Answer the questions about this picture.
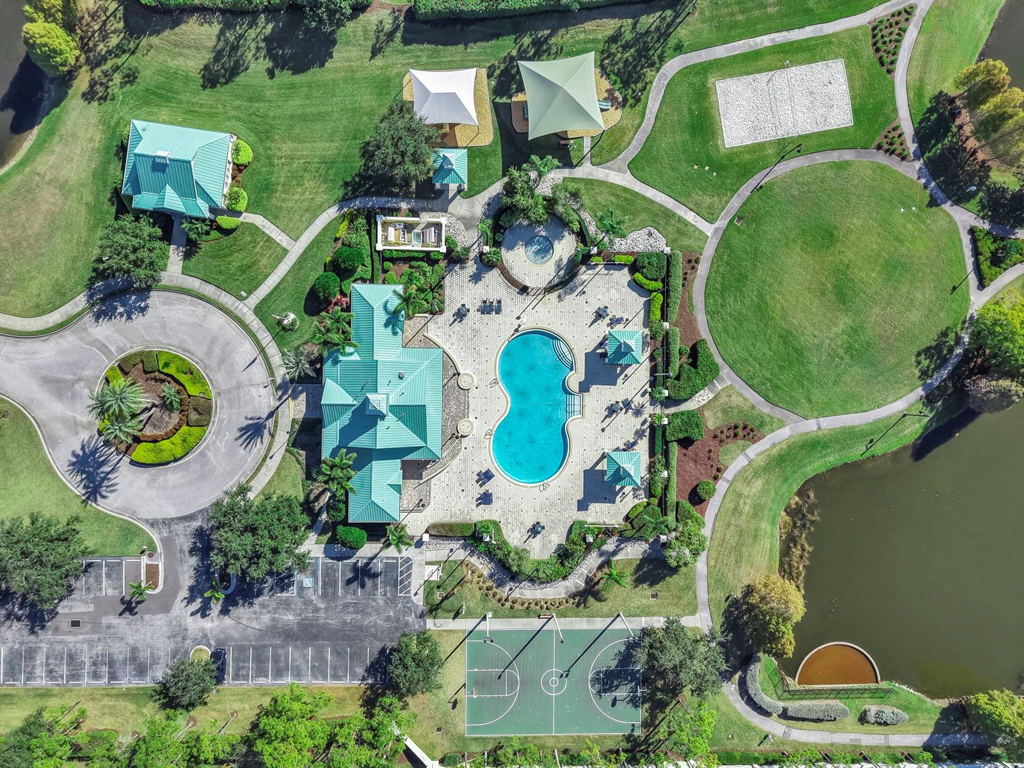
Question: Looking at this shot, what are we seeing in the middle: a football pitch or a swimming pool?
swimming pool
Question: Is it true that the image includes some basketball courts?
Yes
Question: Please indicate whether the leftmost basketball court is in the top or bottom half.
bottom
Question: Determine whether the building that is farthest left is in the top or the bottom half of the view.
top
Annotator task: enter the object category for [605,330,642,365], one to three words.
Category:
gazebo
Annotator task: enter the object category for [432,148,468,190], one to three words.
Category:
gazebo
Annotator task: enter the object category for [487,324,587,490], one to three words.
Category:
swimming pool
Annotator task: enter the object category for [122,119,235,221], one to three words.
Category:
building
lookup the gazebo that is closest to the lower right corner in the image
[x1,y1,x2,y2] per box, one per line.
[604,450,642,487]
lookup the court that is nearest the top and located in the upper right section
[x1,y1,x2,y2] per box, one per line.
[715,58,855,148]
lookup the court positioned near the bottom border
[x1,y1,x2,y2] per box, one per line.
[466,630,641,735]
